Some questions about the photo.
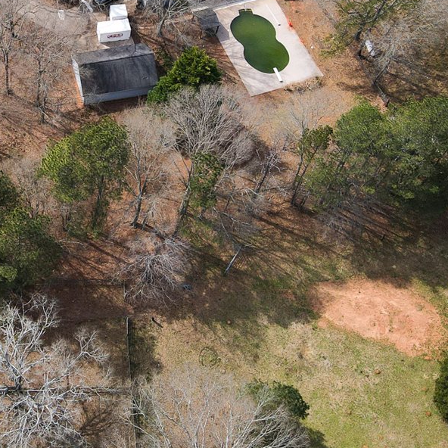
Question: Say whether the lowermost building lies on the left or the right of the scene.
left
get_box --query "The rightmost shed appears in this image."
[191,9,220,37]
